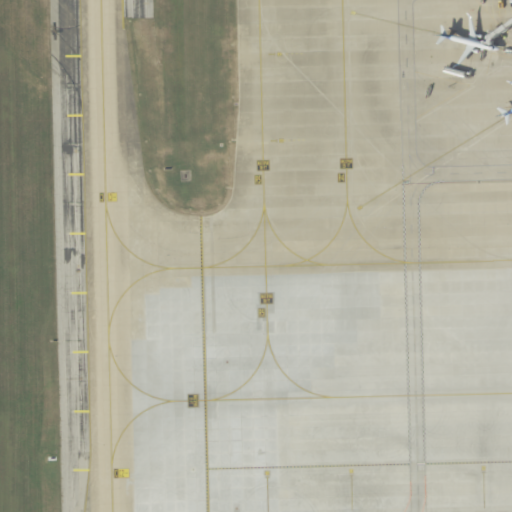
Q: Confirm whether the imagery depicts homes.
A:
No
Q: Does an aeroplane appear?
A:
Yes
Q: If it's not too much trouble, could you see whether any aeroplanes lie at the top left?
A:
No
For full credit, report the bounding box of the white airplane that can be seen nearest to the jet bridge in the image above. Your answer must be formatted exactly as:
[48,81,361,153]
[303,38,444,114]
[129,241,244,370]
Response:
[436,14,498,64]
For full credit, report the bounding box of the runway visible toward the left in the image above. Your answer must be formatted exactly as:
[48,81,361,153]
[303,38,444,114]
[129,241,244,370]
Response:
[50,0,98,512]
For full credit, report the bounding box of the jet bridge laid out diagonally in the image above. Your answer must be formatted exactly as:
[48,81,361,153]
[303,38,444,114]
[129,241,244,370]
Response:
[486,18,512,46]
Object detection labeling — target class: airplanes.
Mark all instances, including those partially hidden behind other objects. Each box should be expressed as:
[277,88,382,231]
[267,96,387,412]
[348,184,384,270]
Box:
[498,108,512,124]
[436,14,498,64]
